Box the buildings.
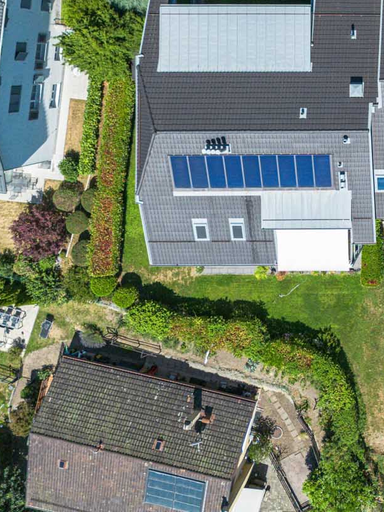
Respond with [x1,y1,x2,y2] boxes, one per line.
[0,0,59,193]
[133,0,384,272]
[26,355,266,512]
